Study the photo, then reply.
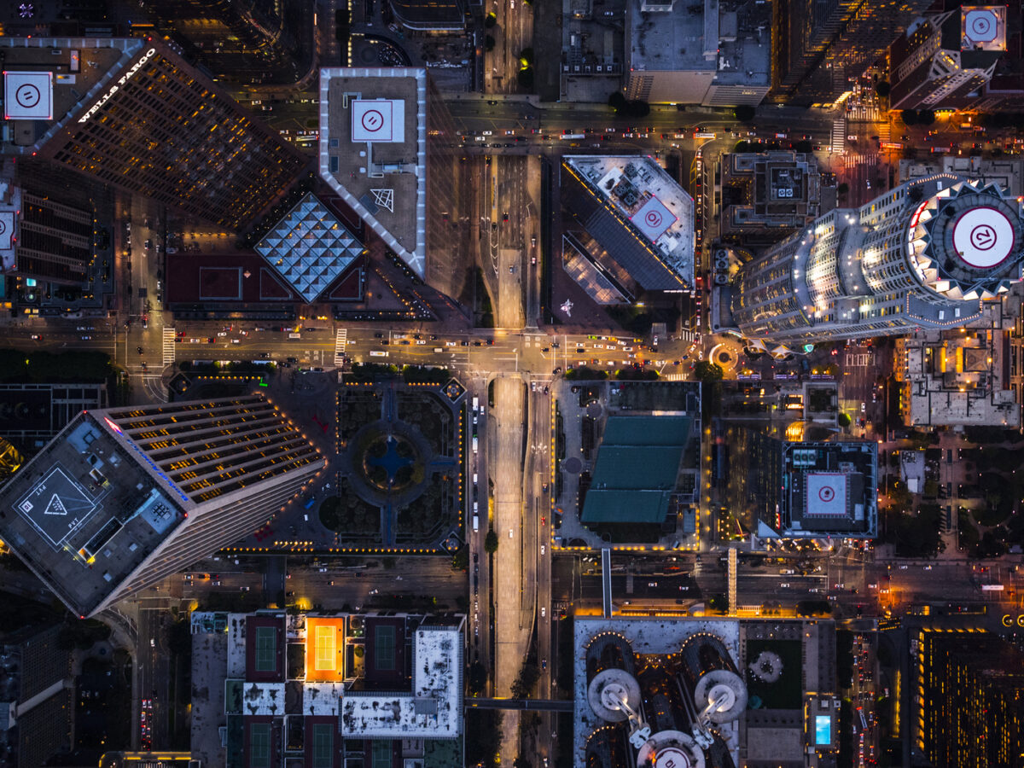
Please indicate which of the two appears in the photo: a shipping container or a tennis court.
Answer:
tennis court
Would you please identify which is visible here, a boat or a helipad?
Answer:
helipad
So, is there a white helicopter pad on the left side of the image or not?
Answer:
No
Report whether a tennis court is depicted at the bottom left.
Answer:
Yes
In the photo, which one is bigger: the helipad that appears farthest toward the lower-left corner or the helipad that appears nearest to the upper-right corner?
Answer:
the helipad that appears farthest toward the lower-left corner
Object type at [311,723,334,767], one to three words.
tennis court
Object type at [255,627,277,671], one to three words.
tennis court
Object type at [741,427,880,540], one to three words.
building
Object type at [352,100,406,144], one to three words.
helipad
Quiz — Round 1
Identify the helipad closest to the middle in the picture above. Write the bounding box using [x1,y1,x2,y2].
[629,196,677,243]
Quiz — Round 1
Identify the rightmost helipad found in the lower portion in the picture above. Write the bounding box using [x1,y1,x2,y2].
[806,473,847,515]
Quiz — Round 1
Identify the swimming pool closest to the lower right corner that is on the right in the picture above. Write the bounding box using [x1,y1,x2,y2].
[815,715,830,745]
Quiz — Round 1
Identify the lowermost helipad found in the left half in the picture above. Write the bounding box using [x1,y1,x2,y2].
[13,461,104,552]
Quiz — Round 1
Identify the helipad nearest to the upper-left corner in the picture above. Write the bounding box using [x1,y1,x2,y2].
[4,72,60,122]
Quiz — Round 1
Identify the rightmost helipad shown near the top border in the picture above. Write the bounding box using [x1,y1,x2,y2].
[964,10,997,43]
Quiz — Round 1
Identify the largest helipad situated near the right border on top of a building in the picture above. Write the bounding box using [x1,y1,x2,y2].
[951,208,1015,270]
